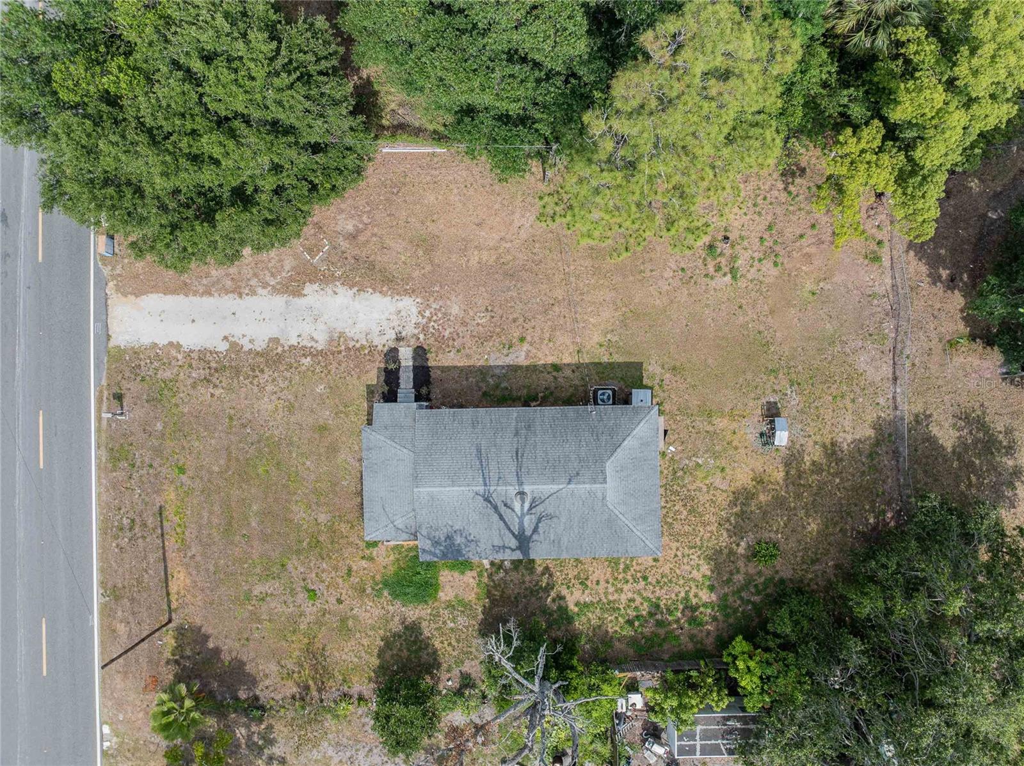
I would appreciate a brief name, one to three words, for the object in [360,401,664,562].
house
